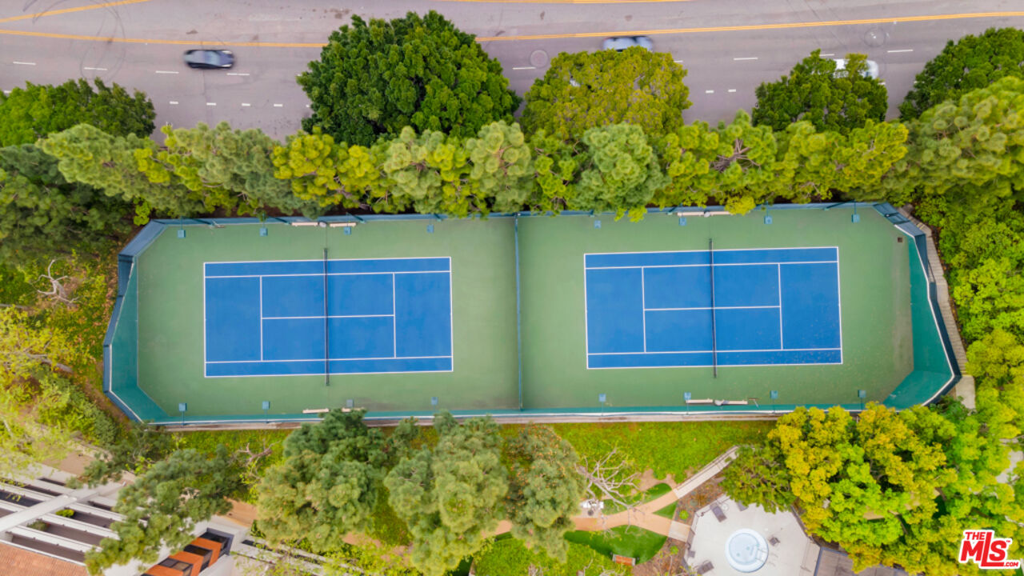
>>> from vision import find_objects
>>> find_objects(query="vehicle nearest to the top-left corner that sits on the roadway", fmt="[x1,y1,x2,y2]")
[184,46,235,71]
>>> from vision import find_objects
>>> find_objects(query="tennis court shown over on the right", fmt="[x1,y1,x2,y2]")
[517,206,913,409]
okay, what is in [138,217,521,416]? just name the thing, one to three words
tennis court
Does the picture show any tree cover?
Yes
